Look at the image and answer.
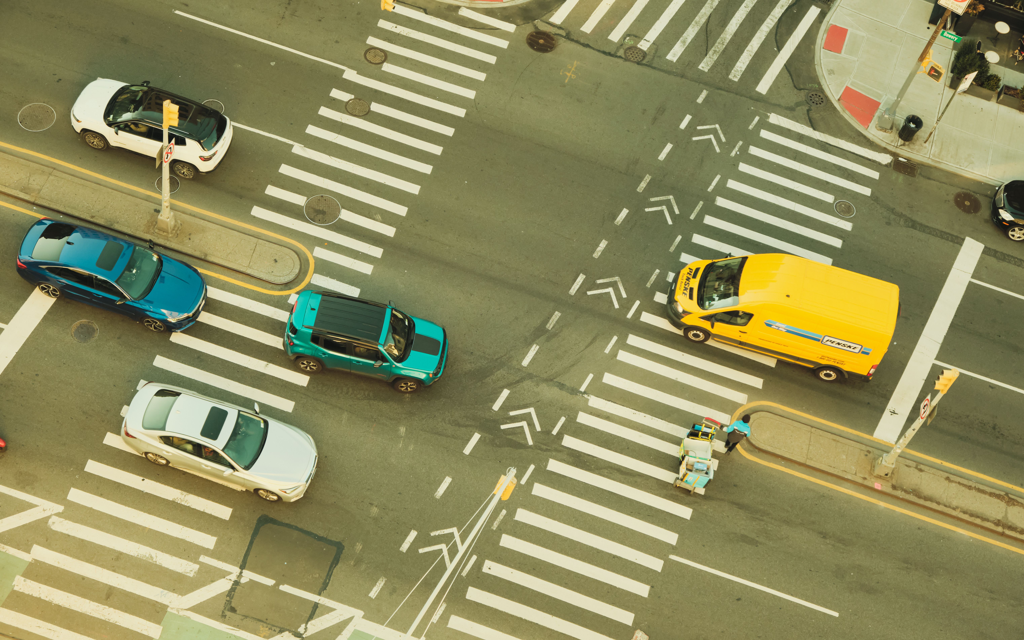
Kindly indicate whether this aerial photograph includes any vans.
Yes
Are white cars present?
Yes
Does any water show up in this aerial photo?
No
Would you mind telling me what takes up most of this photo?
paved ground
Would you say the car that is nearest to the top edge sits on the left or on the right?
left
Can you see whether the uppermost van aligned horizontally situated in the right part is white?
No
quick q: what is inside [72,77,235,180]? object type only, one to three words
car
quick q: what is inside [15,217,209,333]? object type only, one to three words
car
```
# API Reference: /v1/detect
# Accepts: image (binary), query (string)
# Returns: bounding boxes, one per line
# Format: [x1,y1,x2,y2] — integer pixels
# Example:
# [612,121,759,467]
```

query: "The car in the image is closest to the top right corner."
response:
[993,180,1024,242]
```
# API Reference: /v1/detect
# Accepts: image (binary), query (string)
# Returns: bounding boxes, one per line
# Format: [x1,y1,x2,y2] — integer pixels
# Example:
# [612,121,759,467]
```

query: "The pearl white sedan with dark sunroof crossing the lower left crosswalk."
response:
[123,382,324,503]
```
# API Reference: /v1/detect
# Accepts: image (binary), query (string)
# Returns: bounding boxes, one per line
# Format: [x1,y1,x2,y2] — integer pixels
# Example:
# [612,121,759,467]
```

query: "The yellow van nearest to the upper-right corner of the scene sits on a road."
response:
[670,250,899,383]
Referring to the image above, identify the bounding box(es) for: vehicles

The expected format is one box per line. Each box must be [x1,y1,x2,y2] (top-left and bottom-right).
[123,382,324,503]
[72,77,235,180]
[281,287,448,394]
[993,180,1024,242]
[670,250,899,383]
[15,217,209,333]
